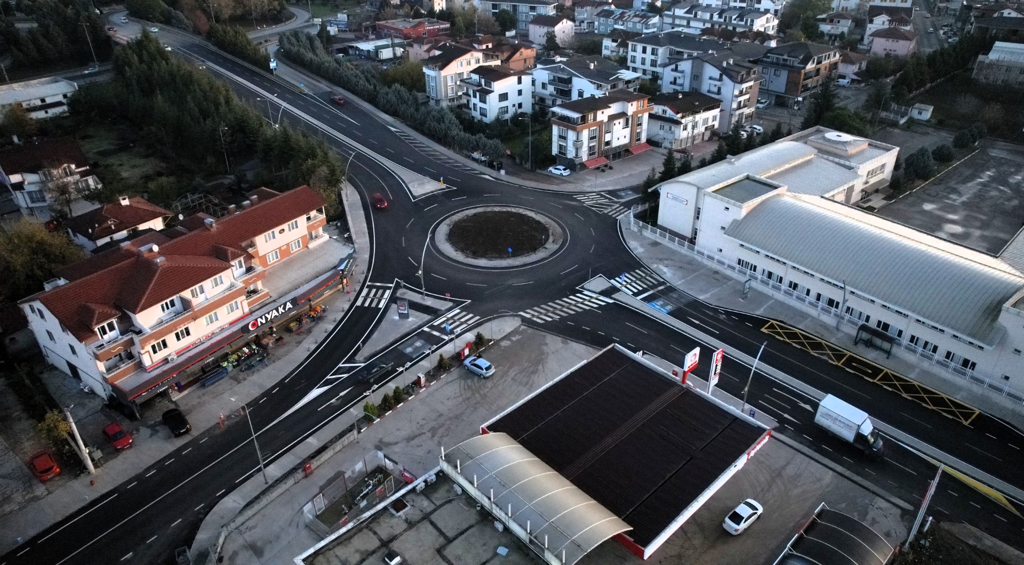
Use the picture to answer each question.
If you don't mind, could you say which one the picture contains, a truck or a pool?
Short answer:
truck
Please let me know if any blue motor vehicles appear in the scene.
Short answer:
Yes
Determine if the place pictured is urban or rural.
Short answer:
urban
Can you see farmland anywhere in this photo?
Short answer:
No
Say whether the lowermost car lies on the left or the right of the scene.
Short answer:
right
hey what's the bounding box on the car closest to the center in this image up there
[461,356,498,379]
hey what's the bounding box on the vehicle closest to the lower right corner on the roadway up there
[819,400,890,461]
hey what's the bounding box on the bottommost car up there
[721,496,766,534]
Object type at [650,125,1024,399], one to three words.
building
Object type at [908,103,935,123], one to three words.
shed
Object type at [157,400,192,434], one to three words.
car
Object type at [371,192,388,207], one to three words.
car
